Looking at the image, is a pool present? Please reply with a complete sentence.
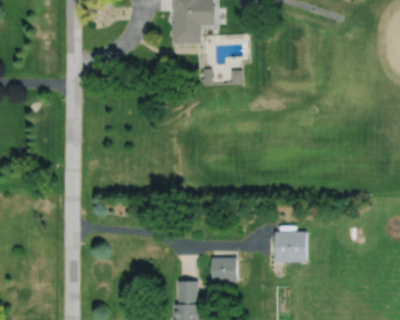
Yes, there's a pool down there.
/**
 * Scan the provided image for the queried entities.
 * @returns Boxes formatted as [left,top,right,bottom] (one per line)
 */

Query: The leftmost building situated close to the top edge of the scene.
[169,0,218,44]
